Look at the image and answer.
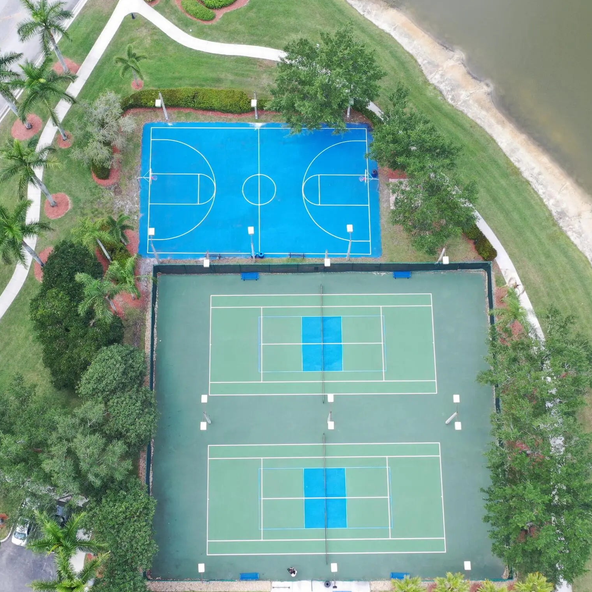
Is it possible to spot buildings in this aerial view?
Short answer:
No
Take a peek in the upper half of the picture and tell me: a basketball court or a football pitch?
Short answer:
basketball court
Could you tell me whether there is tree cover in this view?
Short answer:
Yes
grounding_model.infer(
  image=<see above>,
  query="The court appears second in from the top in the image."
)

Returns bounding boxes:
[153,271,495,420]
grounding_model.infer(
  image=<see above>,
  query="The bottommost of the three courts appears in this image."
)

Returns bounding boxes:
[149,418,511,579]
